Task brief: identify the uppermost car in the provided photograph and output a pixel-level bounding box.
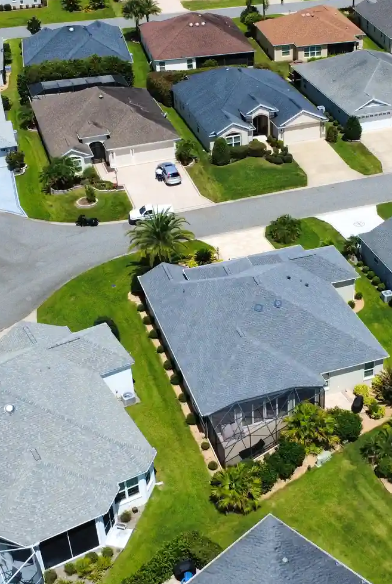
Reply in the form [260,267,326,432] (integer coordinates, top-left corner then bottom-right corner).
[158,160,179,181]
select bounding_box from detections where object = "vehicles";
[77,214,97,225]
[130,201,179,224]
[158,160,179,181]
